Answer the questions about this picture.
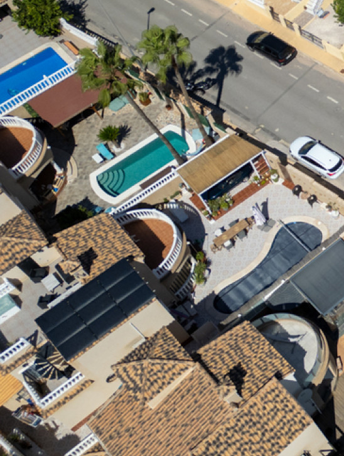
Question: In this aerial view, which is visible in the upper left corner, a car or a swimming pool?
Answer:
swimming pool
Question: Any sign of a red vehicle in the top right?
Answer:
No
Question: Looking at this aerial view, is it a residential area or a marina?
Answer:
residential area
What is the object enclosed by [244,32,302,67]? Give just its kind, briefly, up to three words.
car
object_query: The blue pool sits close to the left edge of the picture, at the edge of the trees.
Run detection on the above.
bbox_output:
[0,40,77,105]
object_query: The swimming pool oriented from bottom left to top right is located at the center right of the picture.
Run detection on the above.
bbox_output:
[209,216,330,319]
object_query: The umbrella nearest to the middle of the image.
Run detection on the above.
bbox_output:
[256,210,272,232]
